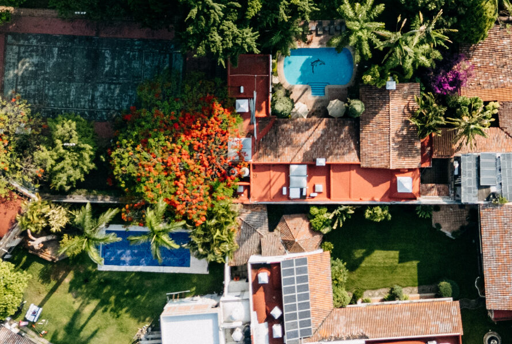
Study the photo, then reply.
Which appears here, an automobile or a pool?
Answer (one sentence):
Looking from above, you can make out a pool.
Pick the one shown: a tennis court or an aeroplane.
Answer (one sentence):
It is a tennis court that can be seen here.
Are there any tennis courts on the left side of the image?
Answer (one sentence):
Yes, a tennis court is visible on the left side of the image.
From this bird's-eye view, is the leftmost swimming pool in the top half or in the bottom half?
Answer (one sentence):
The leftmost swimming pool sits in the bottom half of the picture.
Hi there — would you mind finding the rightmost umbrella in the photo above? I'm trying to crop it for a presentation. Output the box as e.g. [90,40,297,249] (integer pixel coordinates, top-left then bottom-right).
[327,97,346,118]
